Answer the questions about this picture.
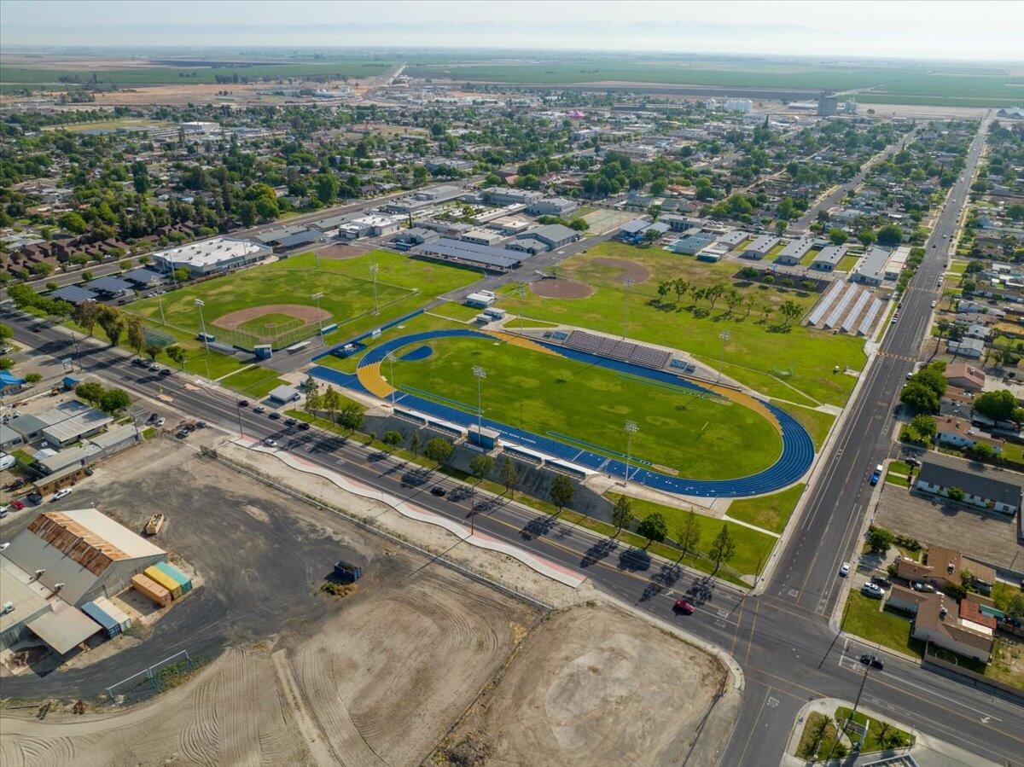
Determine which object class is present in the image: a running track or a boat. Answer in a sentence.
Looking from above, you can make out a running track.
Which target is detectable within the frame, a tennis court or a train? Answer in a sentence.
This aerial view contains a tennis court.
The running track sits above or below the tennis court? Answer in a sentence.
From this view, the running track can be seen below the tennis court.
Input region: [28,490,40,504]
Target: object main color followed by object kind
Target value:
black vehicle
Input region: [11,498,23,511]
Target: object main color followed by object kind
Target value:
red vehicle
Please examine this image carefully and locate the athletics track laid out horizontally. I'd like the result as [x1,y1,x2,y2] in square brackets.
[359,329,810,497]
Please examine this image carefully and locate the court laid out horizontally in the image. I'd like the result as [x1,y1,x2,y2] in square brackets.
[582,209,642,233]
